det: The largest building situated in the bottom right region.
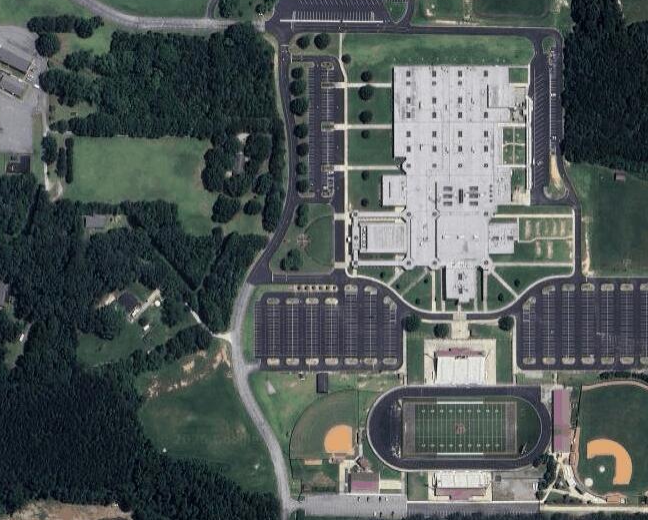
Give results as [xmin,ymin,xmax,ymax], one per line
[553,389,570,453]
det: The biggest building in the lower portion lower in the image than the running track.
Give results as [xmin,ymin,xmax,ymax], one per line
[350,471,381,493]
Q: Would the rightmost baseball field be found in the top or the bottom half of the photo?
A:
bottom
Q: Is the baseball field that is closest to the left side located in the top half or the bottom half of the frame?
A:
bottom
